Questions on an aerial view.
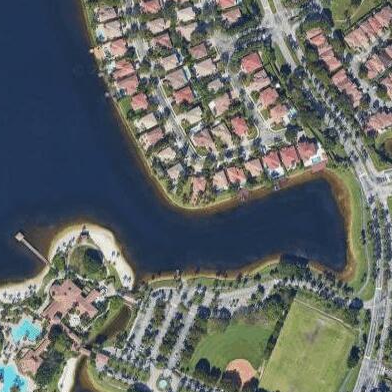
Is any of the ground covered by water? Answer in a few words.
Yes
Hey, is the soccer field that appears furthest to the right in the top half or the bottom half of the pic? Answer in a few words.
bottom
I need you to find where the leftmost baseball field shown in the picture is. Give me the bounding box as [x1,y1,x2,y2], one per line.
[194,320,277,392]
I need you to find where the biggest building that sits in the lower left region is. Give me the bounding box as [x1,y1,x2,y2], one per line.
[34,276,102,351]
